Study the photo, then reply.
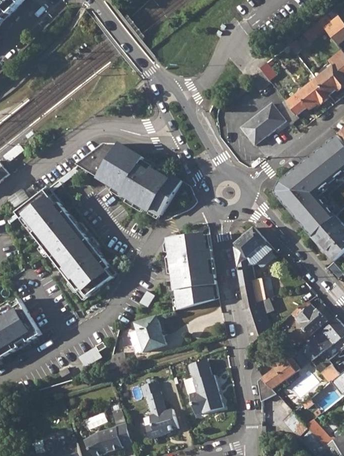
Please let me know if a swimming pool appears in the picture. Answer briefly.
Yes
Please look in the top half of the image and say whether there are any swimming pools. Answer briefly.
No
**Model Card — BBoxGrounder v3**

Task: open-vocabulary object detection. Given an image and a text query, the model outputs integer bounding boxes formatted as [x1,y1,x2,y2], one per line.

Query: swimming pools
[132,386,142,400]
[314,386,342,411]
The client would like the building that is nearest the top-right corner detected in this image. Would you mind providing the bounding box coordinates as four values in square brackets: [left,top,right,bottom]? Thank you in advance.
[324,14,344,44]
